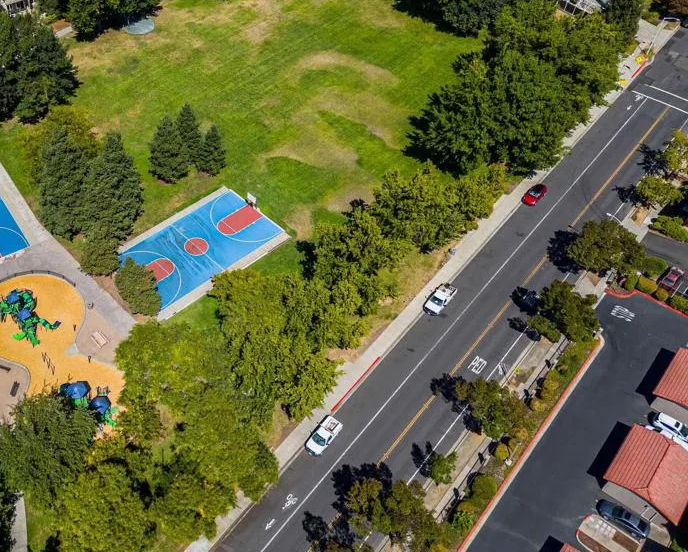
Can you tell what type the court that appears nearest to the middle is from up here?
basketball court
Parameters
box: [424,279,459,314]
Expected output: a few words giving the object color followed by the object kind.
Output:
white truck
